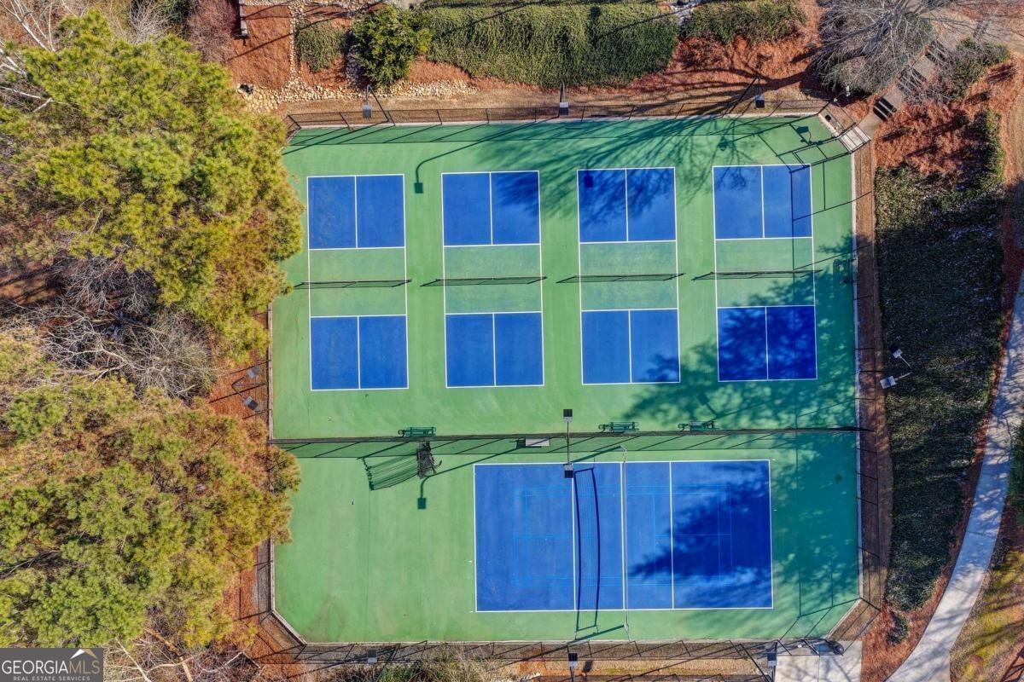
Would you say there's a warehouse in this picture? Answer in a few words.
No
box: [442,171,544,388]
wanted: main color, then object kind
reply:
blue sports court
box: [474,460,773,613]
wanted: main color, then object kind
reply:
blue sports court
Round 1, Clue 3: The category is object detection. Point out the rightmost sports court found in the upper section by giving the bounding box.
[713,163,817,382]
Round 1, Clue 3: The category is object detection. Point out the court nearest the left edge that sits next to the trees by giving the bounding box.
[307,174,408,391]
